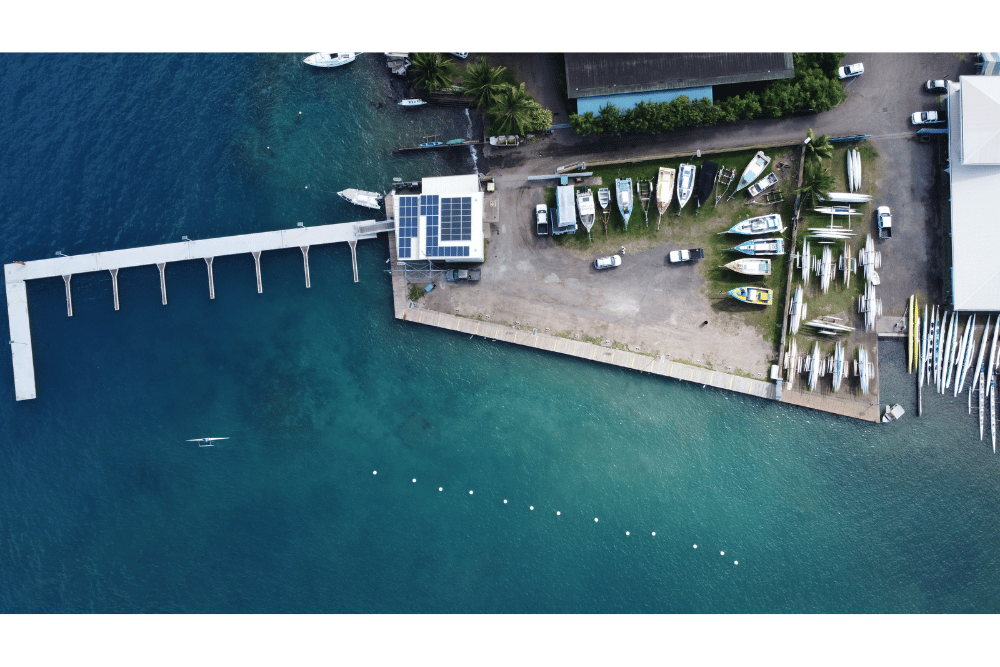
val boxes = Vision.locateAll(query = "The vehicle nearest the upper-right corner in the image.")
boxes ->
[926,77,953,92]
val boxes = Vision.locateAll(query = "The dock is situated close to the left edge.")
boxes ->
[5,220,377,400]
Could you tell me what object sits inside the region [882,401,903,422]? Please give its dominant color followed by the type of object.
white boat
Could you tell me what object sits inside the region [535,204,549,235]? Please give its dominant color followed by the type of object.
white vehicle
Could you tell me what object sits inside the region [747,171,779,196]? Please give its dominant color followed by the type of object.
white truck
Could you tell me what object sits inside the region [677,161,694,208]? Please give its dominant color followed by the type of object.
white boat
